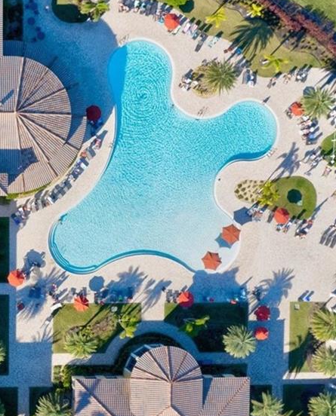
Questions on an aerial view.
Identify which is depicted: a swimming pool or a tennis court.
swimming pool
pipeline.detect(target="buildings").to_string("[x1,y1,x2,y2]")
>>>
[0,0,88,194]
[72,338,250,416]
